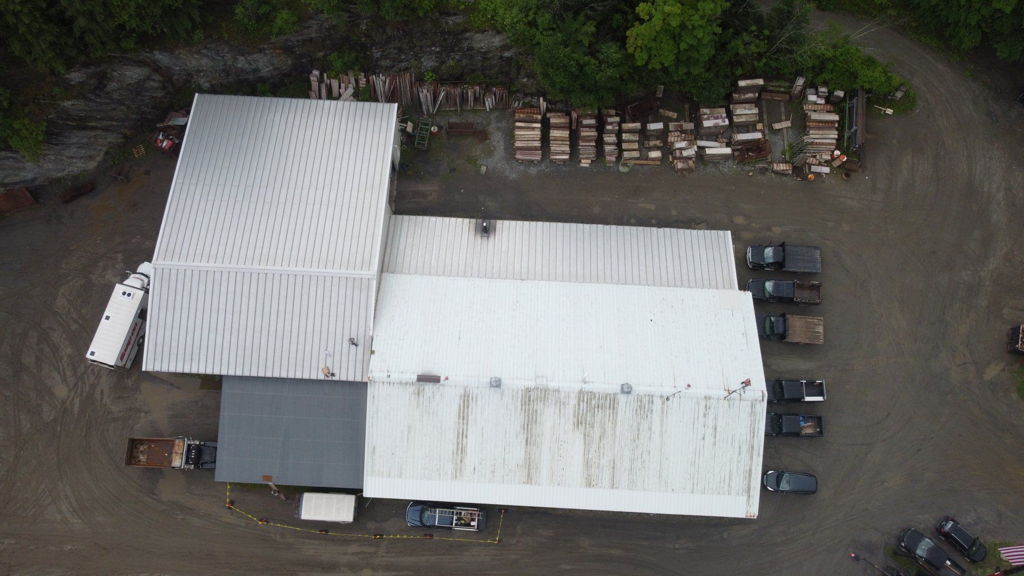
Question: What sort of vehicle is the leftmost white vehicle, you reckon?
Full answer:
The leftmost white vehicle is a truck.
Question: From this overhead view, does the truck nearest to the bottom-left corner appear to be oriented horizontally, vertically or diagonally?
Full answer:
Seen from above, the truck nearest to the bottom-left corner lies horizontally.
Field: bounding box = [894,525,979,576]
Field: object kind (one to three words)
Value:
truck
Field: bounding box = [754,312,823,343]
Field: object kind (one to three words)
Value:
truck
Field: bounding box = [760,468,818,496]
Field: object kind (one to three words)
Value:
car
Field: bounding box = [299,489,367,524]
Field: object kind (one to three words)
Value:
van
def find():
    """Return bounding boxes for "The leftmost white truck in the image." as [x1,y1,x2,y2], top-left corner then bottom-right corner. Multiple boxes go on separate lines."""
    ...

[86,260,151,373]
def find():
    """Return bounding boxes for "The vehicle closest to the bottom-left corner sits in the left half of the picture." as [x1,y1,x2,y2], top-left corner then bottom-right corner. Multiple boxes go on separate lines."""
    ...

[122,436,217,472]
